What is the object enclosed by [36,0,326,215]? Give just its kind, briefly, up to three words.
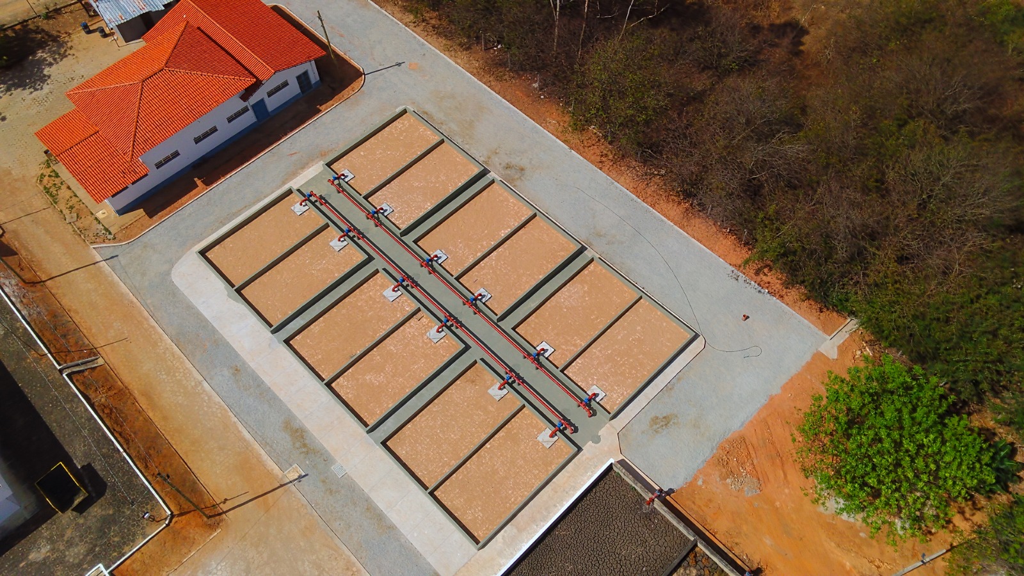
building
